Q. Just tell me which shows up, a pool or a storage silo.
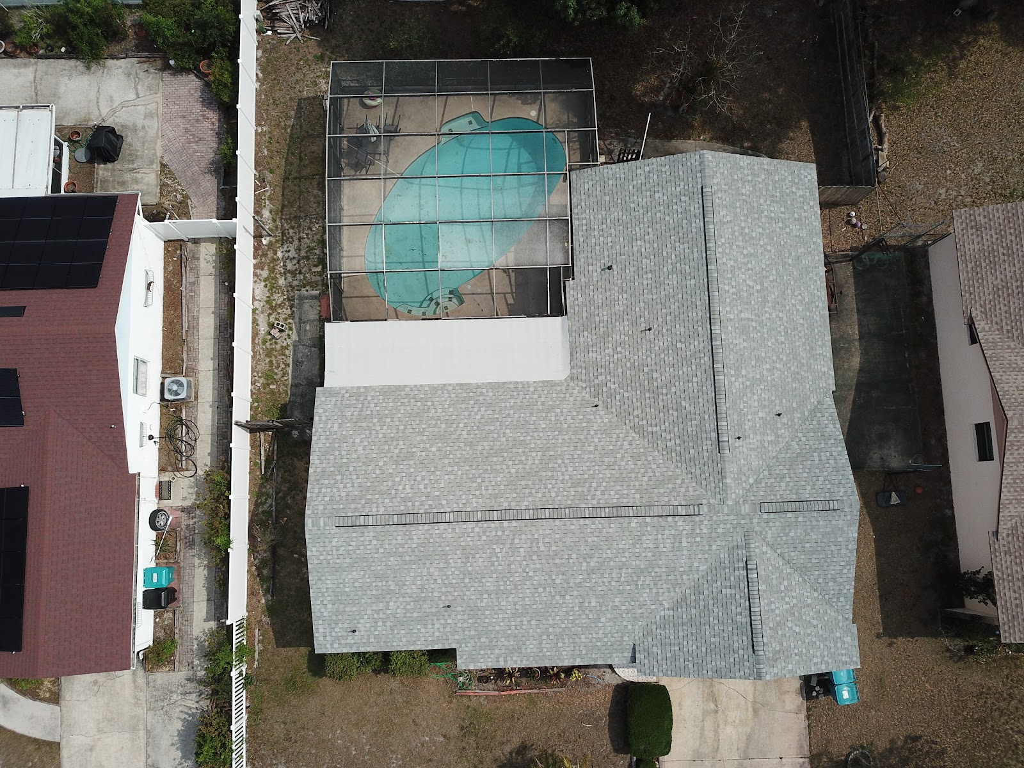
pool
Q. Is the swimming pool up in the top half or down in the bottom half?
top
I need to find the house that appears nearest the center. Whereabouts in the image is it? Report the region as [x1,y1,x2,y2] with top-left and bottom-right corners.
[305,151,861,680]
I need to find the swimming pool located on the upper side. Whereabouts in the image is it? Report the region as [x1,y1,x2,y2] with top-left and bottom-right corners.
[365,111,566,316]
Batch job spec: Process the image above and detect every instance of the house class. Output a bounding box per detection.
[305,151,861,680]
[0,191,164,681]
[927,201,1024,643]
